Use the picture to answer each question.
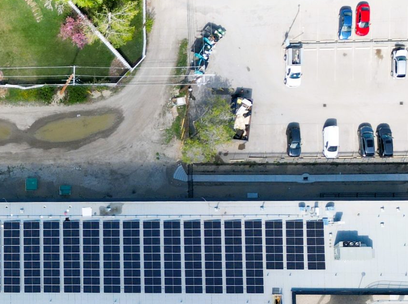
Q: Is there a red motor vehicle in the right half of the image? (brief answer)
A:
Yes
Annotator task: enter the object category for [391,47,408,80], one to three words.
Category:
car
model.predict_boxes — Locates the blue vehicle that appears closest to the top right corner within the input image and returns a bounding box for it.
[339,8,357,41]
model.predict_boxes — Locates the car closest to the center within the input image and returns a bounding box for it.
[286,128,303,161]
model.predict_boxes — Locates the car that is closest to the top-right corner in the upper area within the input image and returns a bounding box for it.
[356,3,373,36]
